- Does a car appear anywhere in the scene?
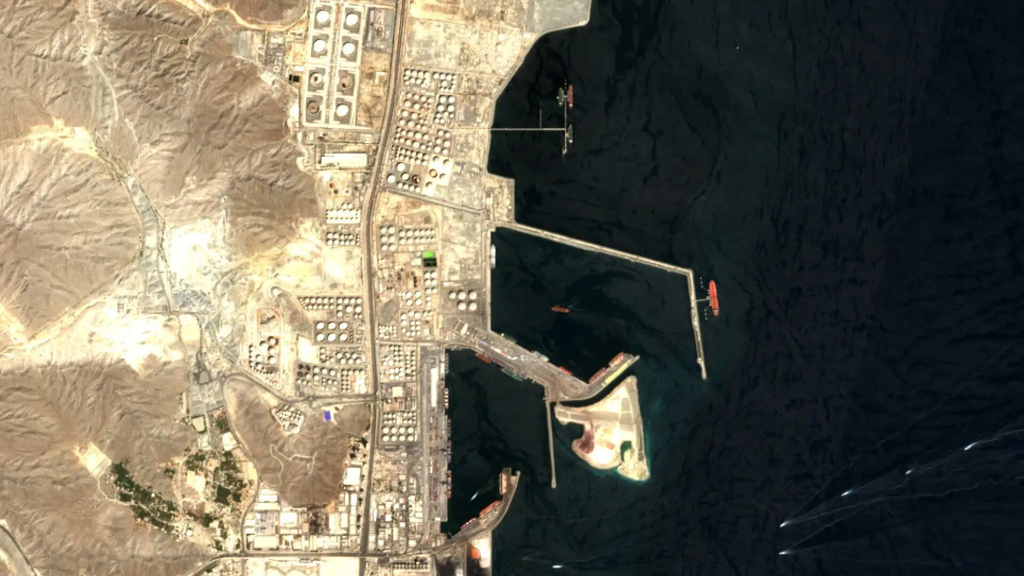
No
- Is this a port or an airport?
port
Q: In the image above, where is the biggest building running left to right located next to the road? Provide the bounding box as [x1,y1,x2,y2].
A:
[338,154,366,167]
